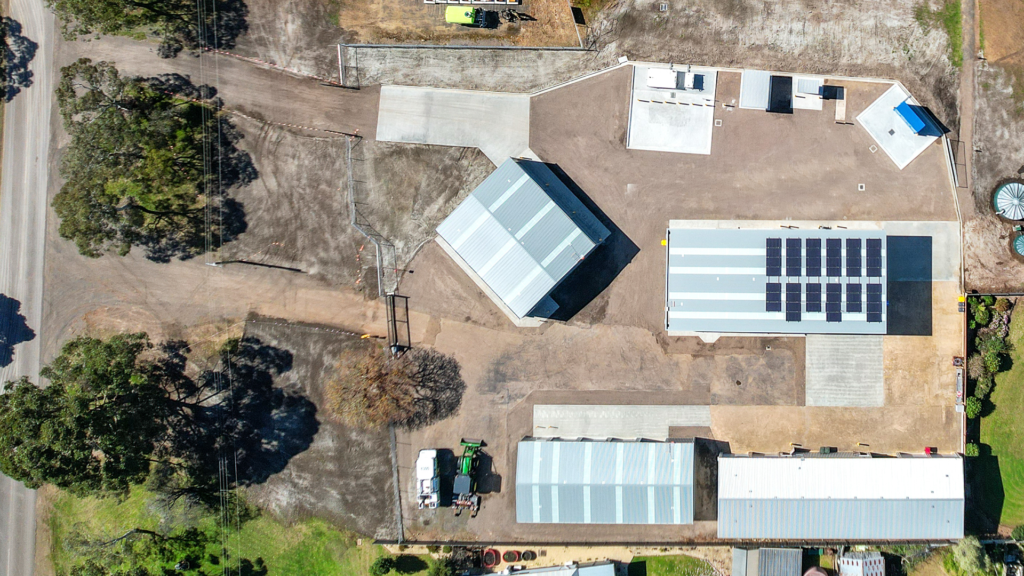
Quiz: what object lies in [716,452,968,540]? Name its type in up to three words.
shed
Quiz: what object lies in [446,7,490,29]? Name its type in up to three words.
trailer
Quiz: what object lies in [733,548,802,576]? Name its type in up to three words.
shed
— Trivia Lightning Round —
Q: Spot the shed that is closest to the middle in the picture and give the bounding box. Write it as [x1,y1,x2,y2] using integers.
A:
[436,157,598,320]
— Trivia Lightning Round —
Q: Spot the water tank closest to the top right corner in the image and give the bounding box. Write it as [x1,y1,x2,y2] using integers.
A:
[991,181,1024,221]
